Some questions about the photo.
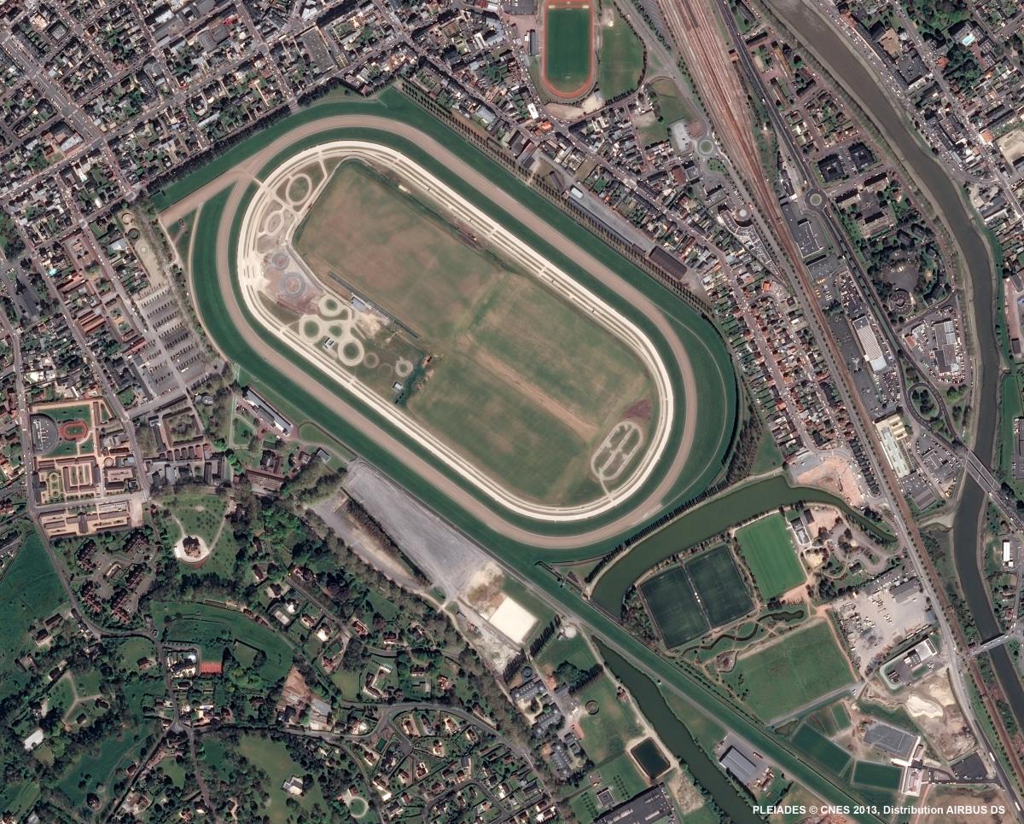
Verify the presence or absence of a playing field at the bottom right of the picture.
Yes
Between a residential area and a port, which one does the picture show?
residential area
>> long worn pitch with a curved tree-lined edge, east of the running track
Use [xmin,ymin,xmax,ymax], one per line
[600,26,645,100]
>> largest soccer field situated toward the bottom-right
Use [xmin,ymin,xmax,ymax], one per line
[738,621,853,721]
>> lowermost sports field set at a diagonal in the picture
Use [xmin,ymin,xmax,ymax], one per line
[791,724,851,776]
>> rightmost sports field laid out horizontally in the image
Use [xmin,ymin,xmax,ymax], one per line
[853,761,903,790]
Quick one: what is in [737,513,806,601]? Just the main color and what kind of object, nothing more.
green soccer field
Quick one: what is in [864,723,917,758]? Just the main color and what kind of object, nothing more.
gray sports court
